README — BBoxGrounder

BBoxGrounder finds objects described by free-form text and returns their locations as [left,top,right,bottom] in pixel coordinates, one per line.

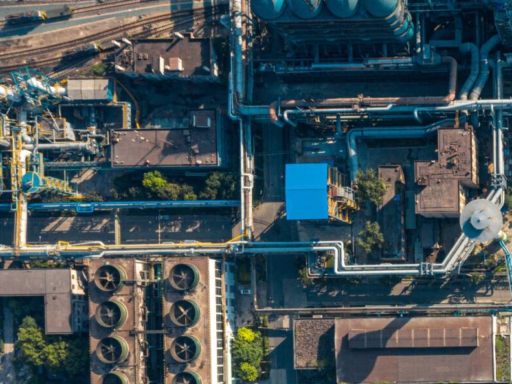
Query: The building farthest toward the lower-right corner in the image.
[336,316,512,383]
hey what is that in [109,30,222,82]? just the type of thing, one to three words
building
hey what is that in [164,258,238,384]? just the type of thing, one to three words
cooling tower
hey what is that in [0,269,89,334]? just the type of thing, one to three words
building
